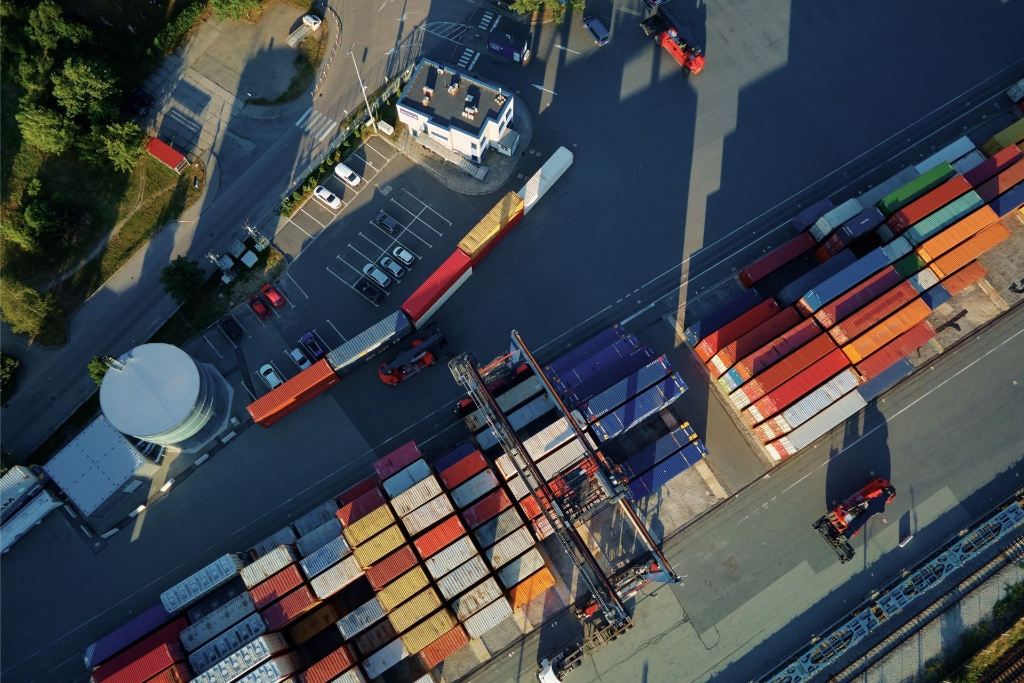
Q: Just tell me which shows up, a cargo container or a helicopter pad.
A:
cargo container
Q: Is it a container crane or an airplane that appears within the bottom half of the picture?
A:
container crane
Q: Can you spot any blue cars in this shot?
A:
Yes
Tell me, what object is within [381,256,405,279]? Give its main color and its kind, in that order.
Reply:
blue car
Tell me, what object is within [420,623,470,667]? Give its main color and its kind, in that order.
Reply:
red shipping container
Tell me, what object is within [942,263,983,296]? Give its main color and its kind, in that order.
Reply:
red shipping container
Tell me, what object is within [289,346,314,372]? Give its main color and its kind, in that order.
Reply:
blue car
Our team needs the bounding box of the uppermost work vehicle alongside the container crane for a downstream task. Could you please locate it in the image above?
[380,317,462,388]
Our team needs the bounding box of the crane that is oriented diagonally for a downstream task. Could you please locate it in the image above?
[441,328,689,626]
